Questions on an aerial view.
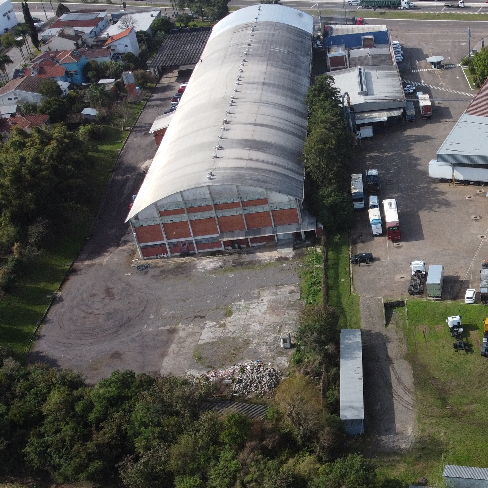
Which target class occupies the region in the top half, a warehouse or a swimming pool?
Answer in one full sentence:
The one visible in the top half is a warehouse.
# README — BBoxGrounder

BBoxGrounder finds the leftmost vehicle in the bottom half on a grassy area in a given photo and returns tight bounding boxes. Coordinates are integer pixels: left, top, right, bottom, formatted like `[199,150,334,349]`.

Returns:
[443,314,471,354]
